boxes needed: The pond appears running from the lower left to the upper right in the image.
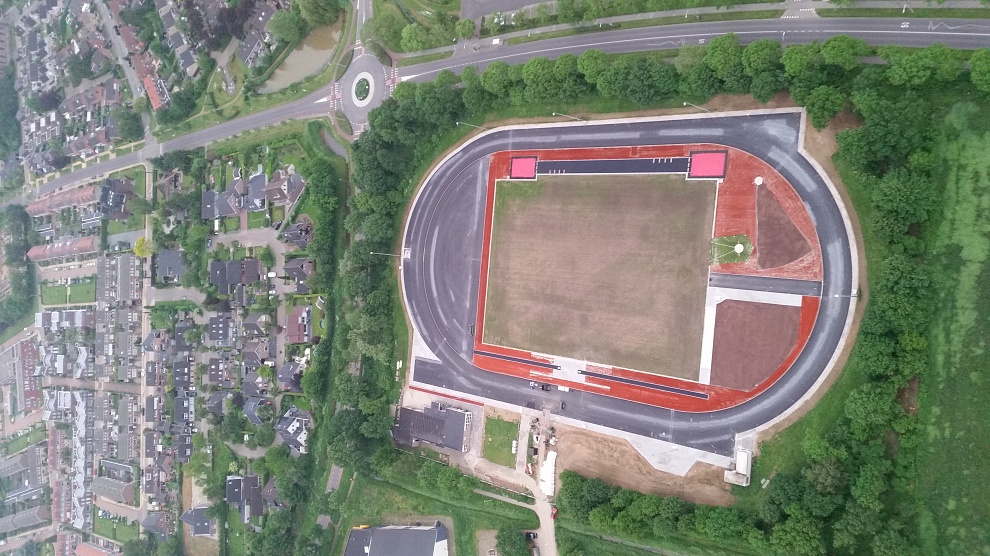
[254,8,344,93]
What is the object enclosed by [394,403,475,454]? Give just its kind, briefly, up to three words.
building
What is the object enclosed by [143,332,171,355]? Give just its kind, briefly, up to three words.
house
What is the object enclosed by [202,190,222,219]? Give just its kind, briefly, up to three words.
house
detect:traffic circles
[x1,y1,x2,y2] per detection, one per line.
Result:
[340,47,387,129]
